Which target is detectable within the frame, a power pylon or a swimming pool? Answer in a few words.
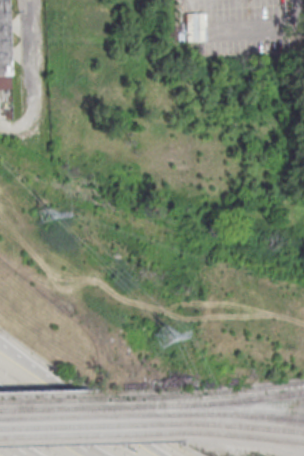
power pylon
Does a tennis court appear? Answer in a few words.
No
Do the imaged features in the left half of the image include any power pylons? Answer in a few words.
Yes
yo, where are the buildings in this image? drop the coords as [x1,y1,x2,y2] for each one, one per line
[0,0,14,90]
[185,14,206,44]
